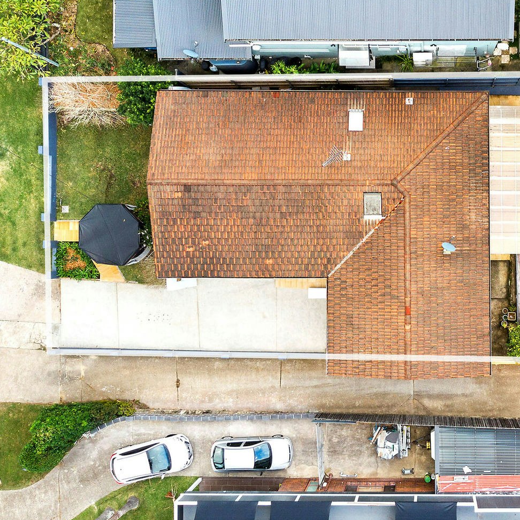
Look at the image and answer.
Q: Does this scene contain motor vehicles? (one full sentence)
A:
Yes, a motor vehicle can be made out from above.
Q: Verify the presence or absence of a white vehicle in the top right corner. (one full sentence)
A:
No, I can find no white vehicle in the top right corner.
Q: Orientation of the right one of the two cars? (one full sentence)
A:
In this picture, the right one of the two cars lies from left to right.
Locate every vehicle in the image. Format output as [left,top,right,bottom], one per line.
[105,435,197,487]
[210,435,292,478]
